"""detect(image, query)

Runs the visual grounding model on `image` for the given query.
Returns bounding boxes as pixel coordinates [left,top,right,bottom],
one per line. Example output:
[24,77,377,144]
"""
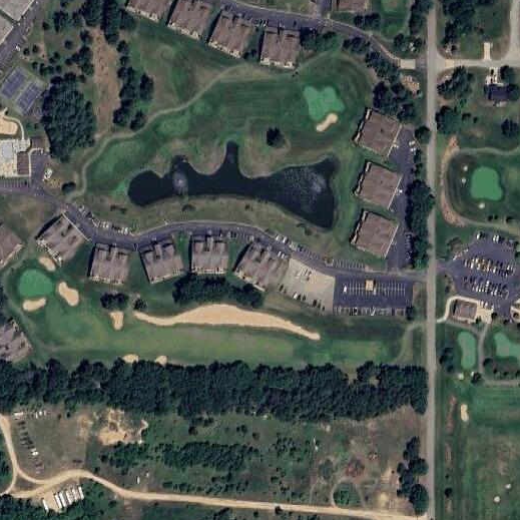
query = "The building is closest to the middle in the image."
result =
[237,239,288,290]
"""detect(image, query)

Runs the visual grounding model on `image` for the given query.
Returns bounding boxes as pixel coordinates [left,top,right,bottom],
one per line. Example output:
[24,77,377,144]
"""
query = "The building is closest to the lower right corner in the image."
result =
[454,300,477,320]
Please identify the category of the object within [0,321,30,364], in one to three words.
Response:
building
